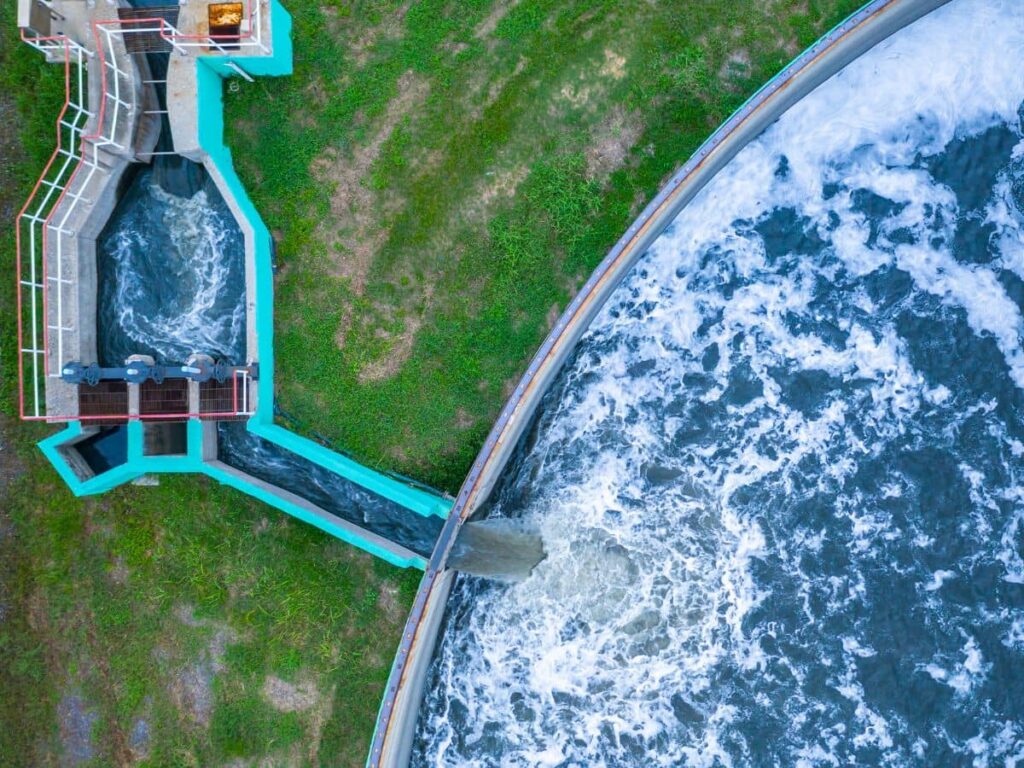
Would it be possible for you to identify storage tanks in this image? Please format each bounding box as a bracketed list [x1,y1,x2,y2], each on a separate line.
[367,0,964,768]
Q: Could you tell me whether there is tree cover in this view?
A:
No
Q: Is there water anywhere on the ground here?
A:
Yes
